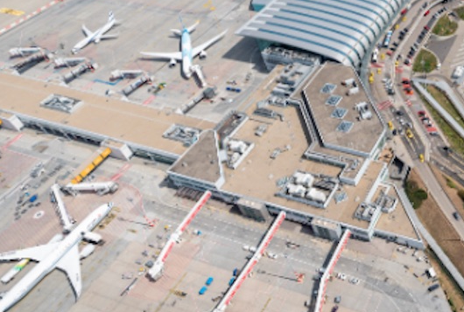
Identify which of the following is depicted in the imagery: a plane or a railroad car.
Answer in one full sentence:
It is a plane that can be seen here.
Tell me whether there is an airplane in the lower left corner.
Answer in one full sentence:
Yes, an airplane is visible in the lower left corner.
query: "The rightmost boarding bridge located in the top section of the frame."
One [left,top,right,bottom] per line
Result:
[178,67,214,115]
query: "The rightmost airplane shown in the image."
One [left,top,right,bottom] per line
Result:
[139,19,228,77]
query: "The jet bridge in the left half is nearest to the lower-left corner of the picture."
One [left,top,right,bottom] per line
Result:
[50,185,77,235]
